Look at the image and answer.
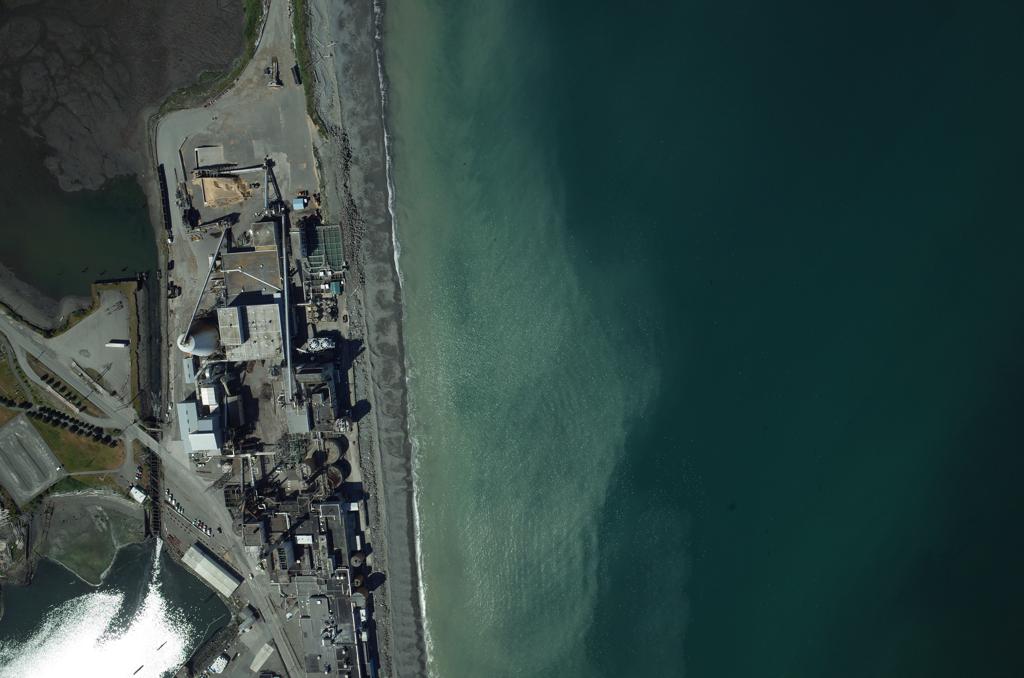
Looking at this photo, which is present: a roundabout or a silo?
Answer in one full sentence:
I can see a silo in this picture.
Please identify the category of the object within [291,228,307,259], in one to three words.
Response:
building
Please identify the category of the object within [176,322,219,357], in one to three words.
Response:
silo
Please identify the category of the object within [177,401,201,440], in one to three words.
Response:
building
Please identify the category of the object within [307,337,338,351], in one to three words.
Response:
cooling tower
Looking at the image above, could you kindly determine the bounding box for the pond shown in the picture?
[0,105,232,678]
